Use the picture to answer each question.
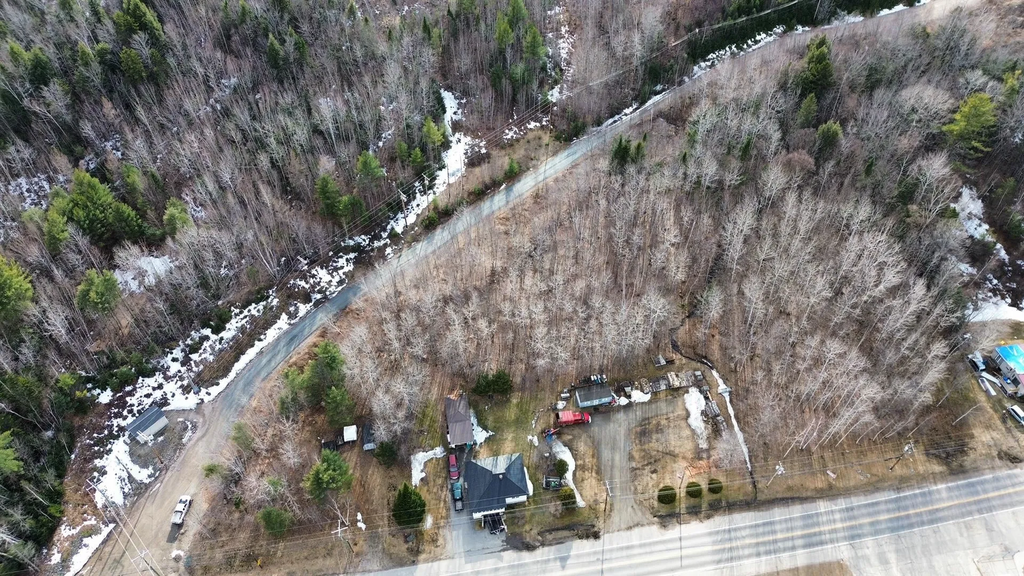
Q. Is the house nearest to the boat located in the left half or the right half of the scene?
right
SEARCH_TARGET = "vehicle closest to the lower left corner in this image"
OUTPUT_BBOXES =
[167,495,190,526]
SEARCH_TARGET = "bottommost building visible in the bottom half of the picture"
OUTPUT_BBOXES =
[465,453,529,525]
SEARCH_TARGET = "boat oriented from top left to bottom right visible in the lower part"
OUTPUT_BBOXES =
[980,378,997,394]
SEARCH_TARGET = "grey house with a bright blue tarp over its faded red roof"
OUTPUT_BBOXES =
[991,341,1024,403]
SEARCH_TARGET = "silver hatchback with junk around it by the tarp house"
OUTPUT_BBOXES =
[967,354,989,372]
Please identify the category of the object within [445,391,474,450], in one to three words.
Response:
building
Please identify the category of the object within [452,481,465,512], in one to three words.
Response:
vehicle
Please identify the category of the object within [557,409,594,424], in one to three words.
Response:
vehicle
